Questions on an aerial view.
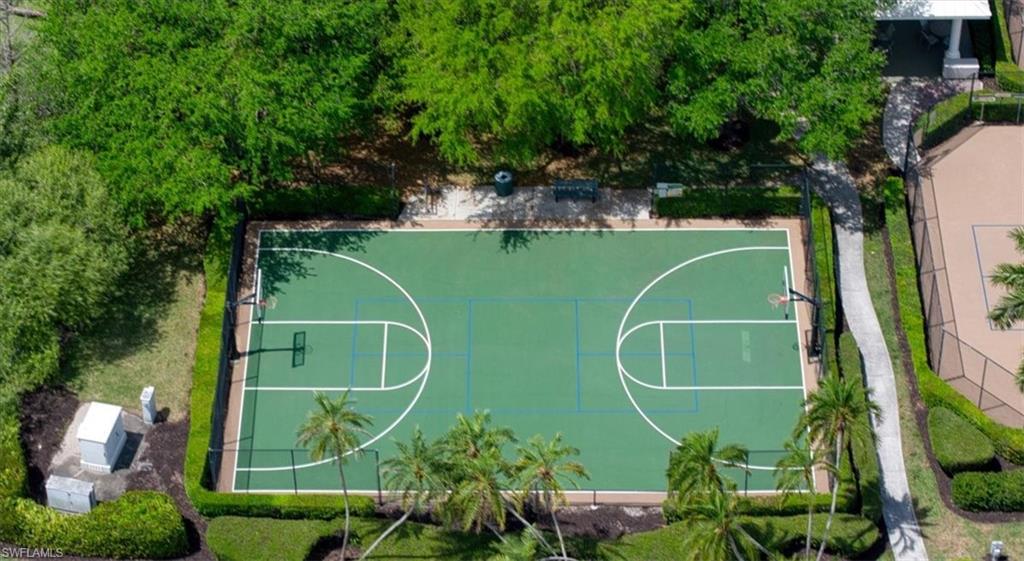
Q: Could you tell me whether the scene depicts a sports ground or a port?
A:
sports ground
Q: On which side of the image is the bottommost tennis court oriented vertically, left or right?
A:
right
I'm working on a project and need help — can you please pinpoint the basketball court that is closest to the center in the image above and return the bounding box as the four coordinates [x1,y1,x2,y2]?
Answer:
[219,218,828,505]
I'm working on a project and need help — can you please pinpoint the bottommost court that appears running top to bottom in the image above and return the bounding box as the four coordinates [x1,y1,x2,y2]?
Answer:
[906,120,1024,428]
